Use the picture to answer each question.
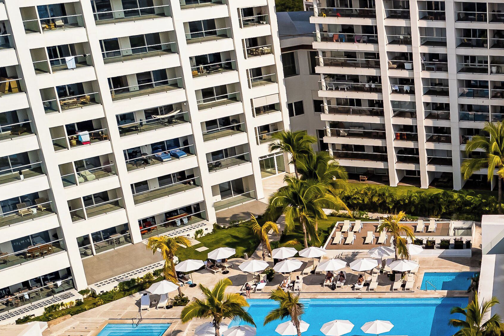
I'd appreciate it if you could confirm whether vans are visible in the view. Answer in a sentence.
No, I can't see a single van in this photo.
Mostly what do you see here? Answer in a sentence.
The largest share of the image is taken up by buildings.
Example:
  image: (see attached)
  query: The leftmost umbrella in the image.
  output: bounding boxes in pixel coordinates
[148,279,181,309]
